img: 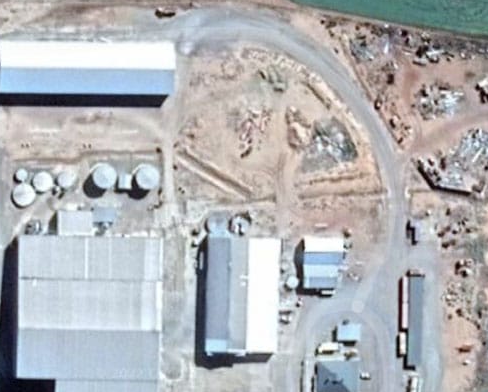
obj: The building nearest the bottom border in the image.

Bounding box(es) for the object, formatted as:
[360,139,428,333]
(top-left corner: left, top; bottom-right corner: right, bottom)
[316,361,358,392]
